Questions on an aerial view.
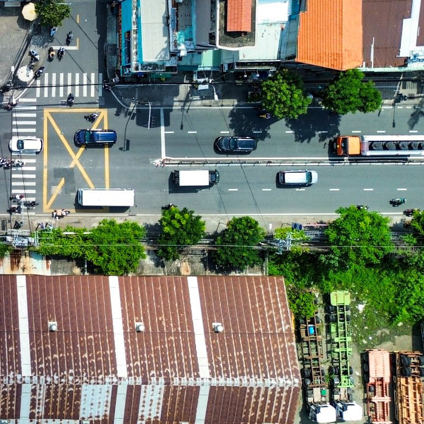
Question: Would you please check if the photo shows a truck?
Yes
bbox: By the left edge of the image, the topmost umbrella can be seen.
[21,3,38,21]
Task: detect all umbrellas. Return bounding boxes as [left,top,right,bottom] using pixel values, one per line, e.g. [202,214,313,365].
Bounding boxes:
[17,66,34,82]
[21,3,38,21]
